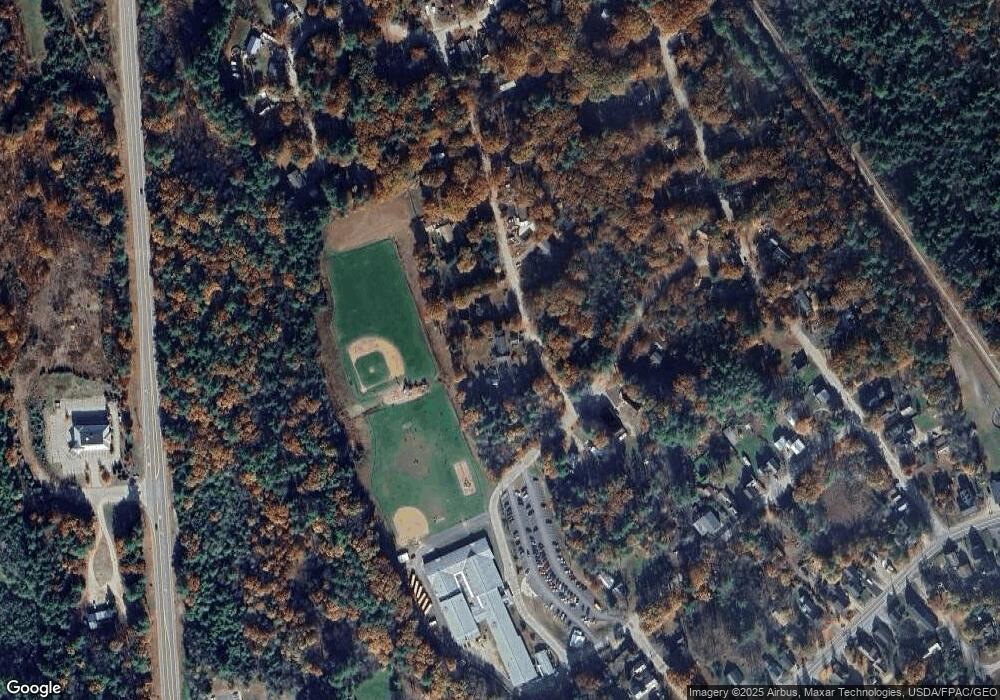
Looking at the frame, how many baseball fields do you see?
2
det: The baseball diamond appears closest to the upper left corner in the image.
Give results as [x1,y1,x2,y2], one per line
[329,238,437,402]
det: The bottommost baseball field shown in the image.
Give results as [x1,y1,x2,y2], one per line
[367,381,487,551]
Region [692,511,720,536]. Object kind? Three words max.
house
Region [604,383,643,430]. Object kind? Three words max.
building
